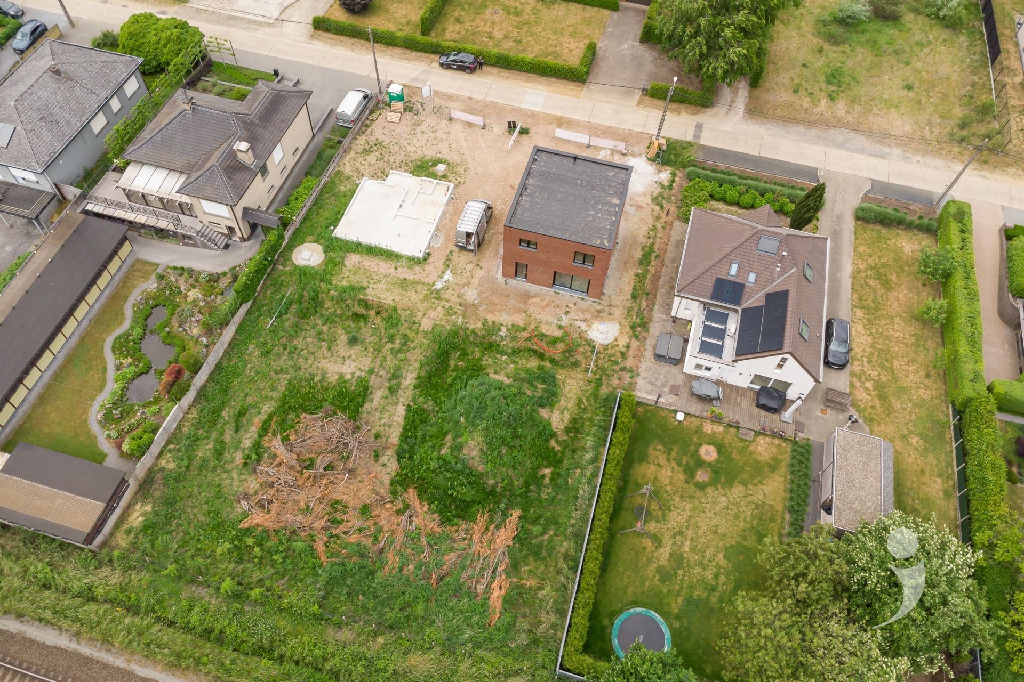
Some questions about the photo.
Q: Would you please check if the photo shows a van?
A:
Yes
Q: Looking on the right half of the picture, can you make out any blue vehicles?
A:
No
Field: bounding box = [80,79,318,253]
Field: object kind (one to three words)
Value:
house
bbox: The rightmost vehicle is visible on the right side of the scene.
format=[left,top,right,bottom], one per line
[825,314,856,368]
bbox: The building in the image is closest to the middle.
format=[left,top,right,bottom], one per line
[502,145,635,300]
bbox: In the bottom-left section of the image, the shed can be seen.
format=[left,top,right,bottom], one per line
[0,442,133,551]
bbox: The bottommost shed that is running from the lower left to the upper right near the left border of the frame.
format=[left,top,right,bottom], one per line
[0,212,134,424]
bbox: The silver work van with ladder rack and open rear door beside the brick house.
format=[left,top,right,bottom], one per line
[453,202,489,254]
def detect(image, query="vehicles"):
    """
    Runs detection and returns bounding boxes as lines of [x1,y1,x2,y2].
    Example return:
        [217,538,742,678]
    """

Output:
[437,50,479,72]
[453,202,489,254]
[329,89,365,125]
[0,0,24,14]
[9,20,49,51]
[825,314,856,368]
